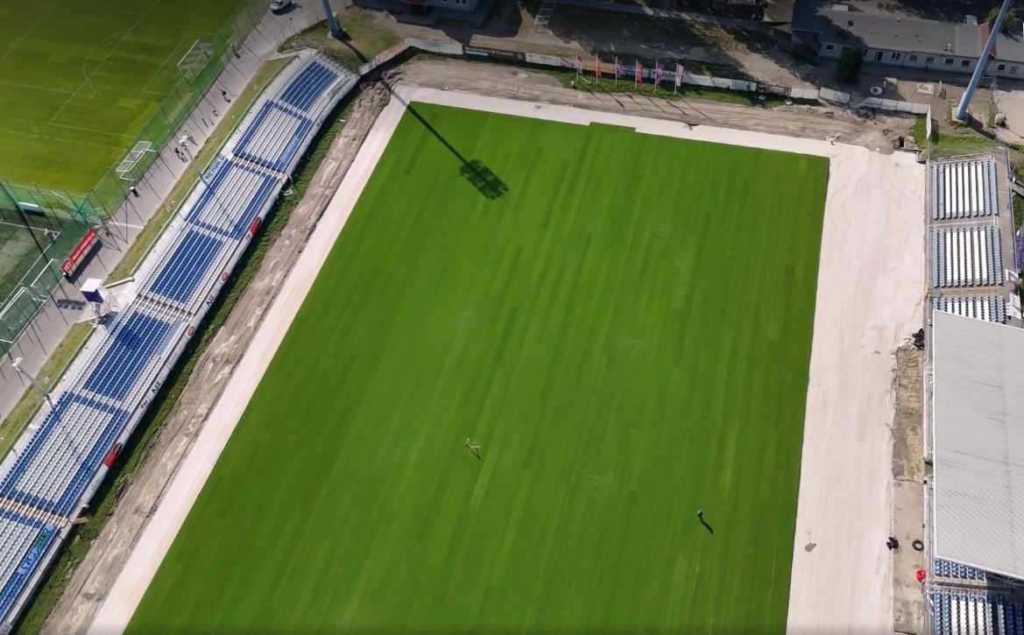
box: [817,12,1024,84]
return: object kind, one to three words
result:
building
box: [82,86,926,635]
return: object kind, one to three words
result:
sports field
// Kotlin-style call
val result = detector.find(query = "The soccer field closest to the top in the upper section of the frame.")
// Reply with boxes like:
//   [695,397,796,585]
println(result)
[0,0,249,207]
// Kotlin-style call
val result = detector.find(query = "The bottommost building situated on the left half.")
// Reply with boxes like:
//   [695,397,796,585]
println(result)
[79,278,118,325]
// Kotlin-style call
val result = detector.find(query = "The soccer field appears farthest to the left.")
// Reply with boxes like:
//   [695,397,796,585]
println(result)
[0,210,94,351]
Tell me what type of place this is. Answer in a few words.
sports ground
